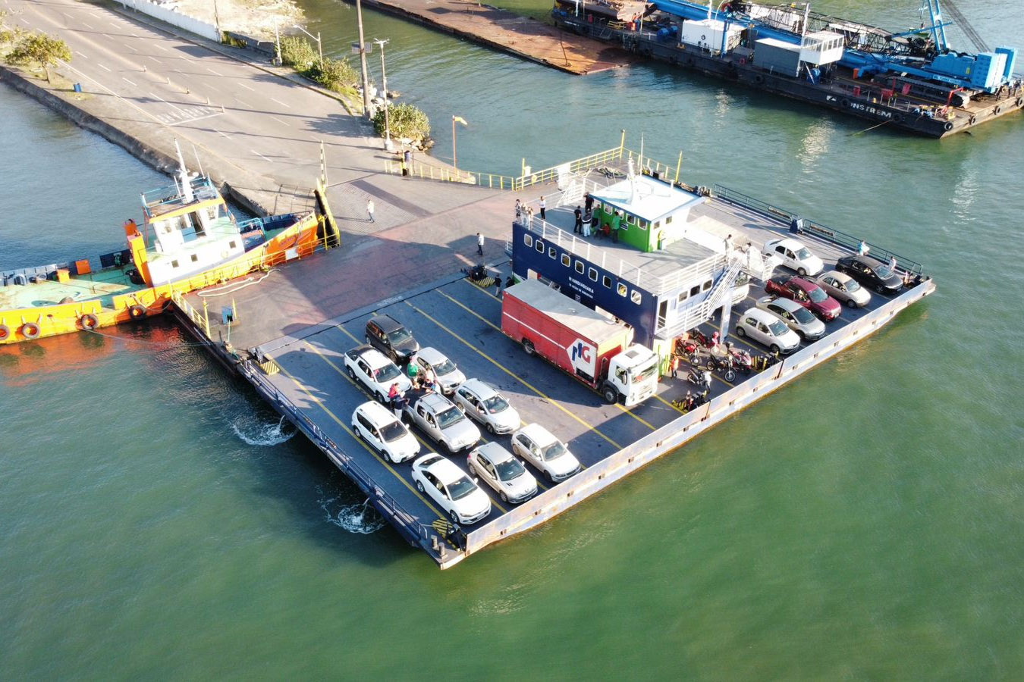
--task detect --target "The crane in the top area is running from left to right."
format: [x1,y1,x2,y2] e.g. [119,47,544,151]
[718,0,1024,108]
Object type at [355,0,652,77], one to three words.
ship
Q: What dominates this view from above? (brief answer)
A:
water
